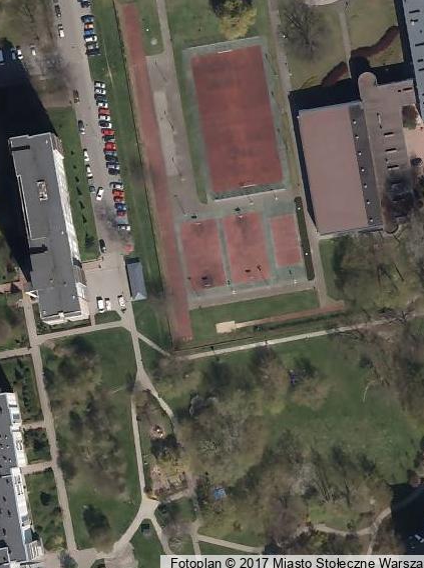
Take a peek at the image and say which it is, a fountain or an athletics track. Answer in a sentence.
There is an athletics track in the scene.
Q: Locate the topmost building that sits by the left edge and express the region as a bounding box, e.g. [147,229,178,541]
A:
[0,132,89,327]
